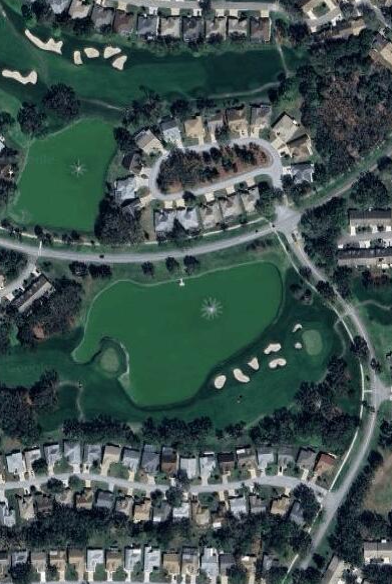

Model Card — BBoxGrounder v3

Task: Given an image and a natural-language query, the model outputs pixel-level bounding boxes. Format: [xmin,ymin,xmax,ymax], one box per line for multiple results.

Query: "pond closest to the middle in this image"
[76,262,281,404]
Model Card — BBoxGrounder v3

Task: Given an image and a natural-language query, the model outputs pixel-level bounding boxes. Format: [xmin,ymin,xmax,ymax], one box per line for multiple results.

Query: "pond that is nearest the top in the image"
[14,117,114,229]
